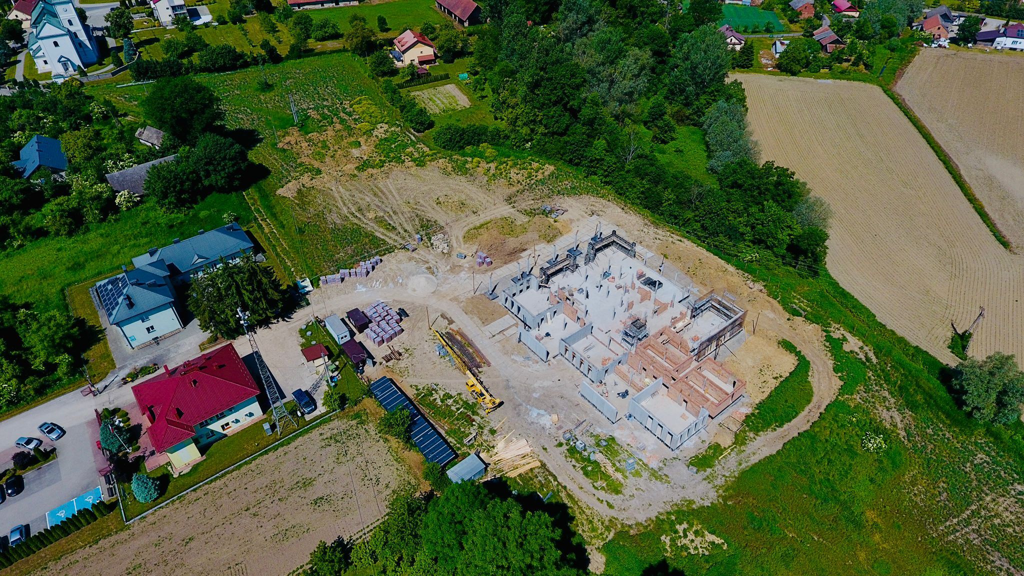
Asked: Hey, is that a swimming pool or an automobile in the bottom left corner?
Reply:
automobile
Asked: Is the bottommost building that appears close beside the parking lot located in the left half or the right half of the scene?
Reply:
left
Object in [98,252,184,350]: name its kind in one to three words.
building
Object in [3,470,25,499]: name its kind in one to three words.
car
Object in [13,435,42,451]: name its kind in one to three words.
car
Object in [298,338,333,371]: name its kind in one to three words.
shed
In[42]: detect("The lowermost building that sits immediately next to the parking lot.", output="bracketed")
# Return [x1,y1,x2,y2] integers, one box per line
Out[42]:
[130,341,265,480]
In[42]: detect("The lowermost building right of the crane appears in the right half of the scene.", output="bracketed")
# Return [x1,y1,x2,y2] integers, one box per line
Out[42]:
[482,234,748,452]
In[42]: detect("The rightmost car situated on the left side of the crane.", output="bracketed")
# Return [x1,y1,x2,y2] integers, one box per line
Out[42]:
[289,387,317,415]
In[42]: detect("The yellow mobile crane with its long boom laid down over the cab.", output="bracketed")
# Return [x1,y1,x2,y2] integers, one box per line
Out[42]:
[430,330,508,415]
